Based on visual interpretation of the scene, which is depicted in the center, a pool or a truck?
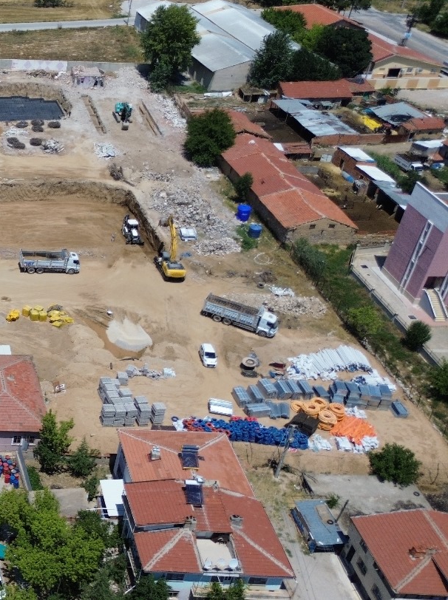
truck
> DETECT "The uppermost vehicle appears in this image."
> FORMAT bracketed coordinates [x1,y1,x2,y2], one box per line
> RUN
[115,106,132,123]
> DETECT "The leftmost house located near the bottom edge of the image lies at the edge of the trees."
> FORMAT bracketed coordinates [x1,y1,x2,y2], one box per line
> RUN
[85,423,296,600]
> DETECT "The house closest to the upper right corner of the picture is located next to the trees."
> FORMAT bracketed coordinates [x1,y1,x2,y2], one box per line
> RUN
[343,24,442,81]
